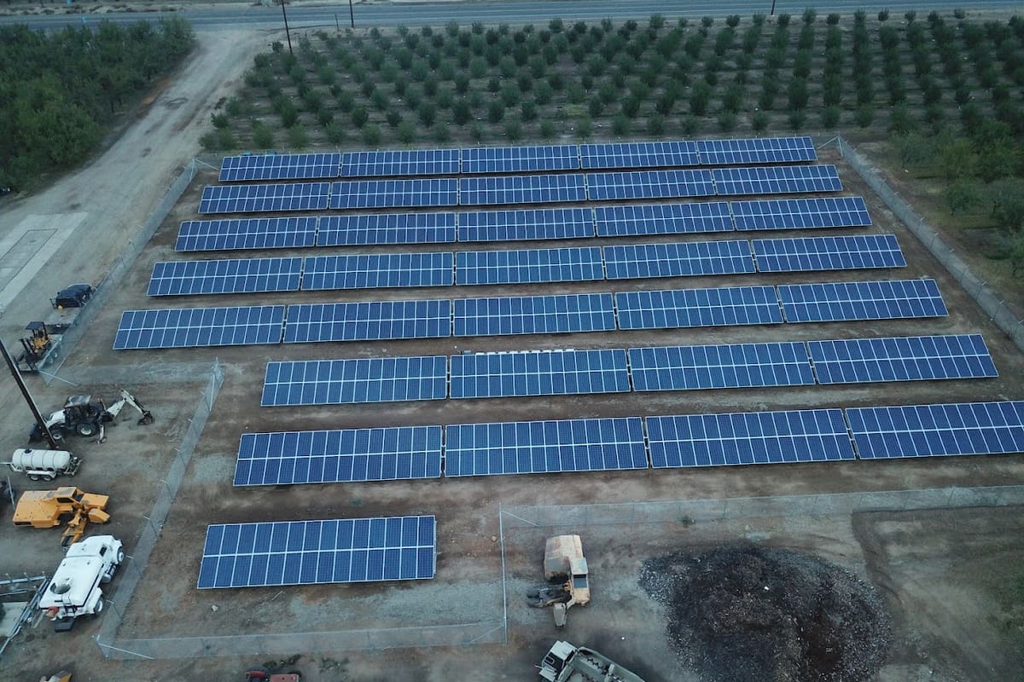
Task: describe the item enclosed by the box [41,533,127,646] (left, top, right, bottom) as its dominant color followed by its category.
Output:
white truck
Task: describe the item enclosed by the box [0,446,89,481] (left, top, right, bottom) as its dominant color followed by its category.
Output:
white trailer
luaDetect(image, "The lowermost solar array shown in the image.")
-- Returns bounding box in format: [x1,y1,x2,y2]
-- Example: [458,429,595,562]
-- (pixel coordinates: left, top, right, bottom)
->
[197,515,436,589]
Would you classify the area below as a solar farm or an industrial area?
solar farm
